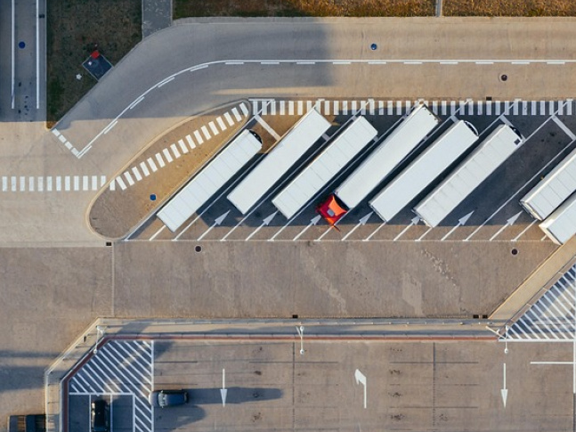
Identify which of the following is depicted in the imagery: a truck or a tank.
truck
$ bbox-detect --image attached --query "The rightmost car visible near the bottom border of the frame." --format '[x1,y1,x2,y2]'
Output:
[150,390,188,411]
